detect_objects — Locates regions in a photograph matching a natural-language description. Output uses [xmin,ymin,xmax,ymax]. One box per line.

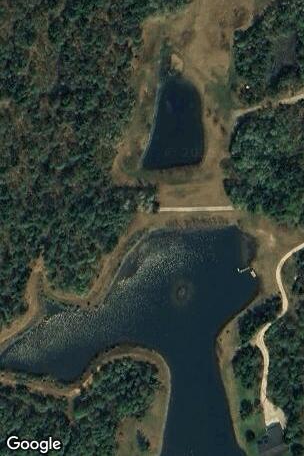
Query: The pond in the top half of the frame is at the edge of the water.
[143,74,204,168]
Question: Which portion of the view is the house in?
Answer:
bottom right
